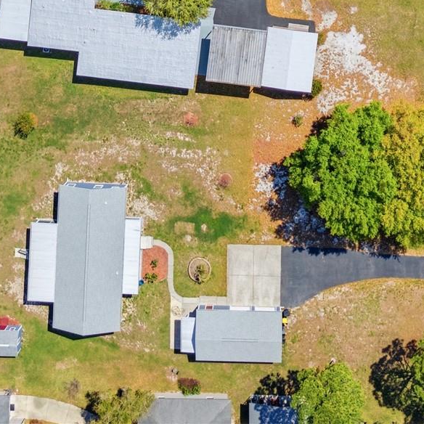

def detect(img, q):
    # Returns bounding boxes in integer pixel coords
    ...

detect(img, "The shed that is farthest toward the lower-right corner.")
[249,395,298,424]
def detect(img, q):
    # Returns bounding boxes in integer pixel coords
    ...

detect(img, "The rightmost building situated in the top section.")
[261,26,317,93]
